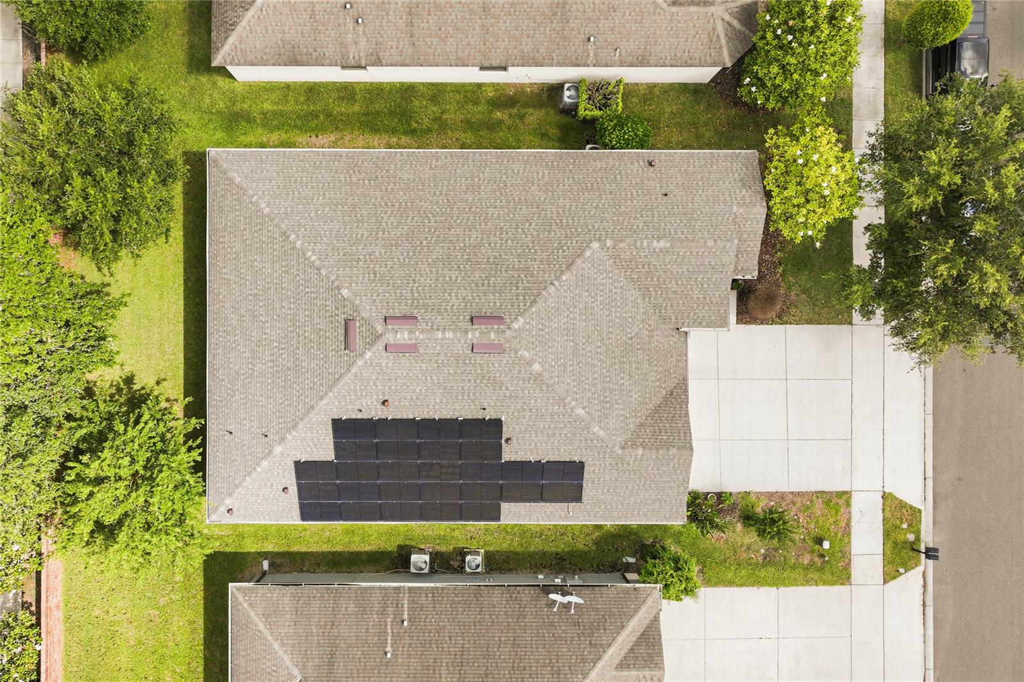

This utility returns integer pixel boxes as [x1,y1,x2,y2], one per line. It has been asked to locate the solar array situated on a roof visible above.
[295,417,584,522]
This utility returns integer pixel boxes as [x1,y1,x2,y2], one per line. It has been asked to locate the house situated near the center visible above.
[205,148,767,525]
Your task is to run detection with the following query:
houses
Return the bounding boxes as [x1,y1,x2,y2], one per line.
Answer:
[228,574,664,682]
[209,0,756,82]
[205,148,767,525]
